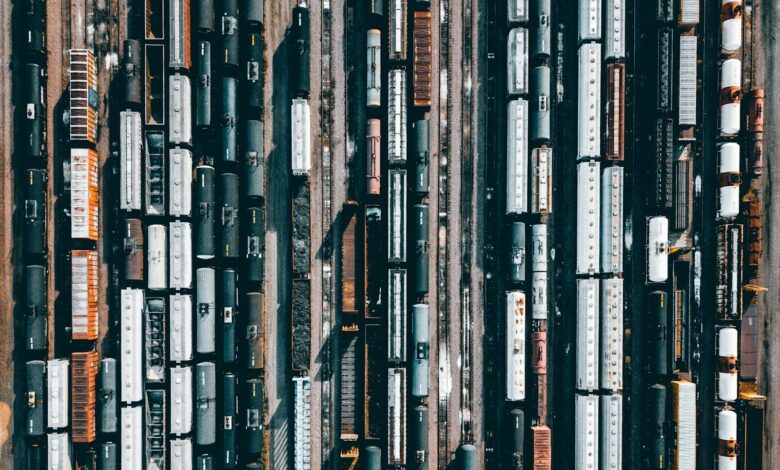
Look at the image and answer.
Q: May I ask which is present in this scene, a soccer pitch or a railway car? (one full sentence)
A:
The image shows a railway car.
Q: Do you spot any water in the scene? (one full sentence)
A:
No, the picture contains no water.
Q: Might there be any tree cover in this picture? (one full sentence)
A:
No, the scene doesn't show any tree cover.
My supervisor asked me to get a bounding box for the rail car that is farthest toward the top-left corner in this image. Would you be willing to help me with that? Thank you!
[21,0,45,59]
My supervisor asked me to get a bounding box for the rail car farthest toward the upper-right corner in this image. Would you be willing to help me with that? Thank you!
[720,0,746,57]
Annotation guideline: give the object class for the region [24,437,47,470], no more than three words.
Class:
rail car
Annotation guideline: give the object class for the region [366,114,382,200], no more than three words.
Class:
rail car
